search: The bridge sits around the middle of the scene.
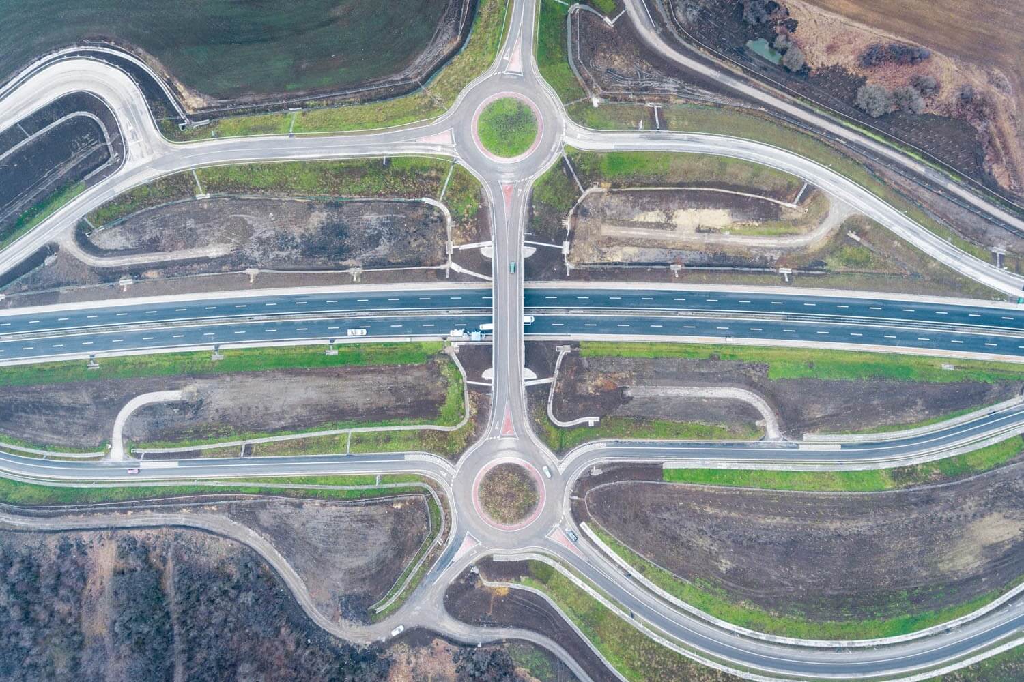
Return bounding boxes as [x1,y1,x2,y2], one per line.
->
[493,226,524,398]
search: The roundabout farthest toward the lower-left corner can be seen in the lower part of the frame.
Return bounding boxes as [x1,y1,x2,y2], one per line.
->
[435,399,587,571]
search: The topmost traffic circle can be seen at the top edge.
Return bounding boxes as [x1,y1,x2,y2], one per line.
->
[409,27,588,225]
